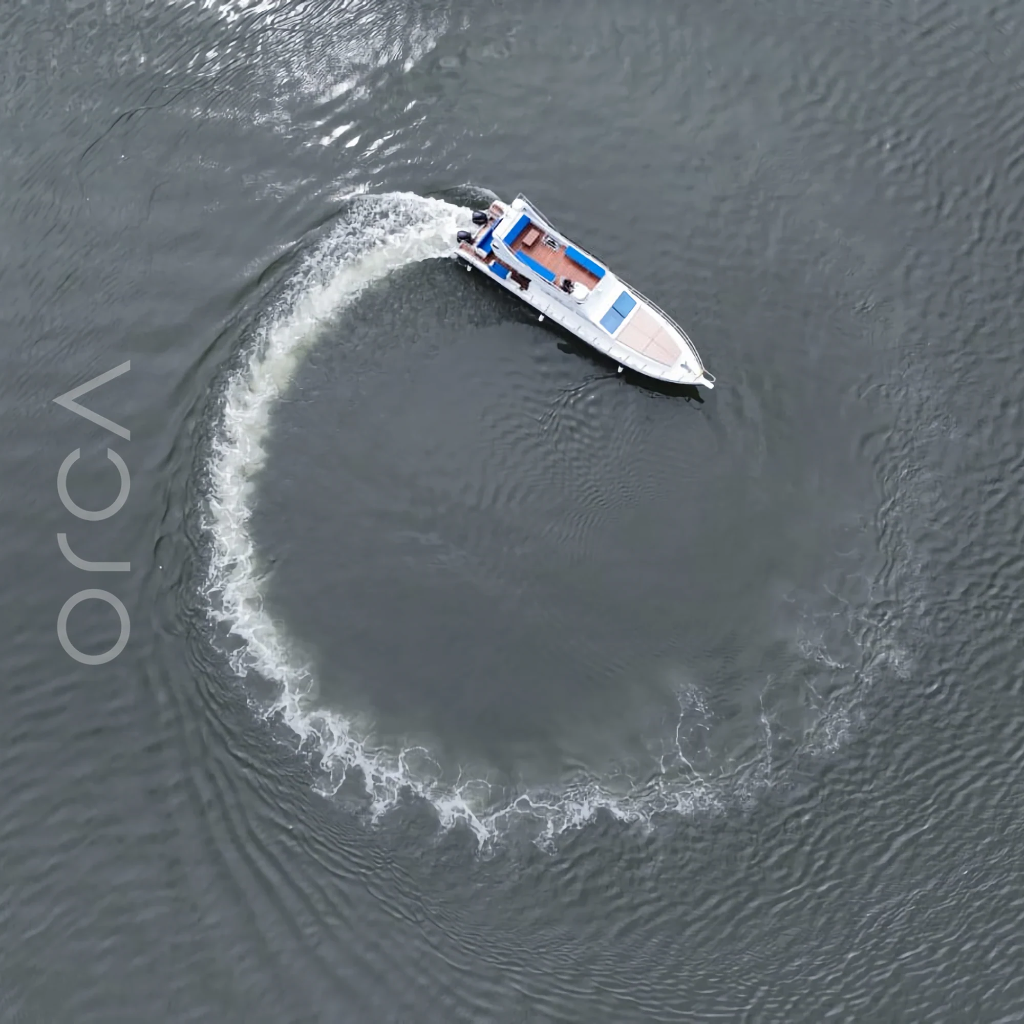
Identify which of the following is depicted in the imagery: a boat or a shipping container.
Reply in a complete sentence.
Of the two, only a boat appears.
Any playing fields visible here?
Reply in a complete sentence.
No, no playing field is visible in the scene.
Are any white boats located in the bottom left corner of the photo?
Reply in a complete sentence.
No, no white boat appears in the bottom left corner of the photo.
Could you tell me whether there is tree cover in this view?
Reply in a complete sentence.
No, no tree cover is visible.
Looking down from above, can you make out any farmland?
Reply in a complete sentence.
No, there is no farmland in the image.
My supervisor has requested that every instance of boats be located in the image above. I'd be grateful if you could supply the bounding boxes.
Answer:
[455,191,720,389]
